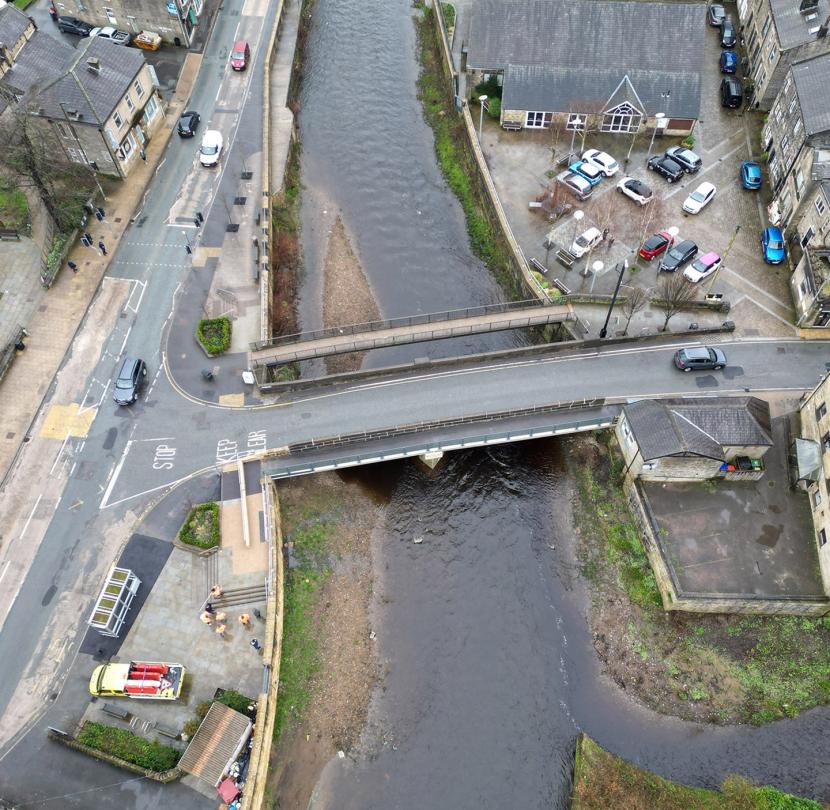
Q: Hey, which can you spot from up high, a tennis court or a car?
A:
car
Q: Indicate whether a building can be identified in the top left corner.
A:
Yes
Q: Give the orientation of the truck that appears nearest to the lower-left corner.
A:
horizontally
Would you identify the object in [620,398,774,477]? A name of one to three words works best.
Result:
house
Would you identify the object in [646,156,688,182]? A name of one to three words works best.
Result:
car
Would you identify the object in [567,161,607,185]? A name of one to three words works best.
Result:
car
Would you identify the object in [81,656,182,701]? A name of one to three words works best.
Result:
truck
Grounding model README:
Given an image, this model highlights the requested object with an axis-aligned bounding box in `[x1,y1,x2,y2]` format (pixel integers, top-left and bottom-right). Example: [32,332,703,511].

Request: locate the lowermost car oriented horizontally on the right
[672,346,734,375]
